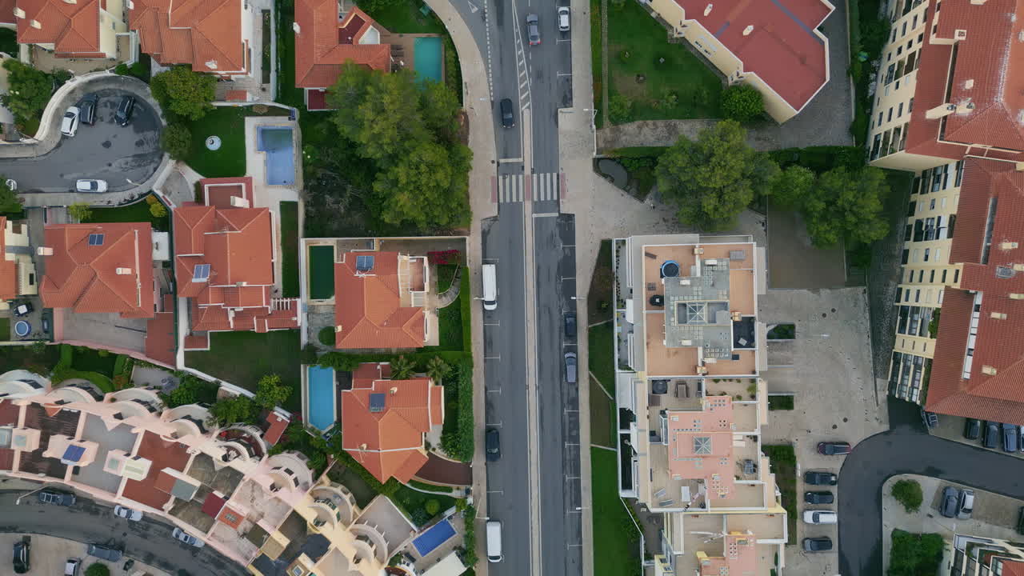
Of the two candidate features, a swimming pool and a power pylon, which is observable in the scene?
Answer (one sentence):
The image shows a swimming pool.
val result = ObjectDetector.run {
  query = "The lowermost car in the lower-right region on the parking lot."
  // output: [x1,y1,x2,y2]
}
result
[802,536,831,551]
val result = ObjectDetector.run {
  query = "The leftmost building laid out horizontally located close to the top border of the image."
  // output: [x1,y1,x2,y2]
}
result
[13,0,144,73]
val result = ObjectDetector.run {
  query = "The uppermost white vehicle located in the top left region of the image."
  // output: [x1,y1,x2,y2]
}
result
[64,107,82,137]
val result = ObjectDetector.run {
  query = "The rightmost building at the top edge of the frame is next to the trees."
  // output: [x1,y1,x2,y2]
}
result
[869,0,1024,171]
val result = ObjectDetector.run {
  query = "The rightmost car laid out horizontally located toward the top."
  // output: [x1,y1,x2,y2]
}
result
[78,178,109,193]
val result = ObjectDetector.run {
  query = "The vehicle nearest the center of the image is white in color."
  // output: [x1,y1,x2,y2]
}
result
[481,264,499,309]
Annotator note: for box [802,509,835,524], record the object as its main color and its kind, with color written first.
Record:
white car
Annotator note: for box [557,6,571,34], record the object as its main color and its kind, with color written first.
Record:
white car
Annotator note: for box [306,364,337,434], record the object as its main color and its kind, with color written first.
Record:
blue swimming pool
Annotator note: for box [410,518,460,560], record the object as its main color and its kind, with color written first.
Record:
blue swimming pool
